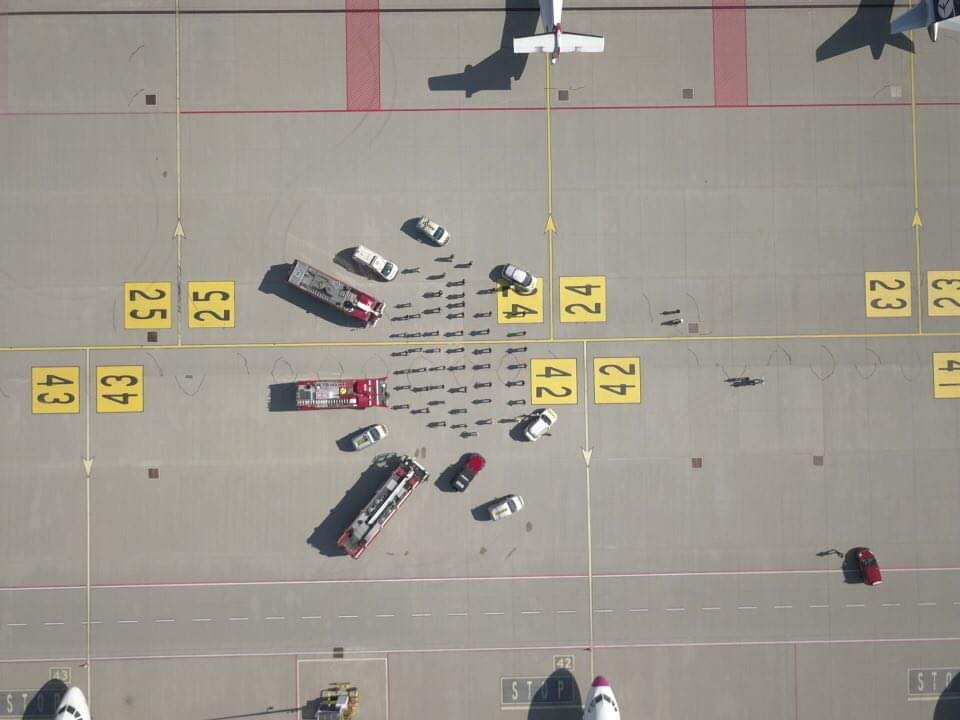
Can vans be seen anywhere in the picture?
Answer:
Yes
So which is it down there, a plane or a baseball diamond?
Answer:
plane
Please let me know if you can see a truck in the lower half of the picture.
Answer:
Yes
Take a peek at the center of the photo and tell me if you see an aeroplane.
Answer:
No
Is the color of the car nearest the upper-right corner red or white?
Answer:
white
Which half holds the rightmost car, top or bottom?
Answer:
bottom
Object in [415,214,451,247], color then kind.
white car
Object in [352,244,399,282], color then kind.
white van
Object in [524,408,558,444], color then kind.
white car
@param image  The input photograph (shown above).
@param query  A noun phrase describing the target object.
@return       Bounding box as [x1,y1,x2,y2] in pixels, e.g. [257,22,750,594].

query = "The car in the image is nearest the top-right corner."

[500,262,538,292]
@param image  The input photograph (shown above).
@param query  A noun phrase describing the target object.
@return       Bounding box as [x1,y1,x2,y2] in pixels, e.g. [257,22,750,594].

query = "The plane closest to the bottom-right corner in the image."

[584,676,621,720]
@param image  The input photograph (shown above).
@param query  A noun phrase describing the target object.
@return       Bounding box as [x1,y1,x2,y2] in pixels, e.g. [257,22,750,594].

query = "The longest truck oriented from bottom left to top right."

[337,455,428,562]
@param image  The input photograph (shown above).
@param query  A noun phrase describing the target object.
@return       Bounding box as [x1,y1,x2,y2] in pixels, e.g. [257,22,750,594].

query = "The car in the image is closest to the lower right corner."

[855,548,884,586]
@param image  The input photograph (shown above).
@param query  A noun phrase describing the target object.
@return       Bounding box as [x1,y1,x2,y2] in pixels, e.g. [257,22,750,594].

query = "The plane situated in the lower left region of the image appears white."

[54,687,95,720]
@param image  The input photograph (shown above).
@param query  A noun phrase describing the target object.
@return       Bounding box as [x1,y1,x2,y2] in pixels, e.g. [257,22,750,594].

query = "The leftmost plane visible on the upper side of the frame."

[514,0,604,63]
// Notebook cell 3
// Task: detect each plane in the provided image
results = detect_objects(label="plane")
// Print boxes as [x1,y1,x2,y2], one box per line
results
[584,676,621,720]
[54,687,95,720]
[889,0,960,41]
[514,0,604,63]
